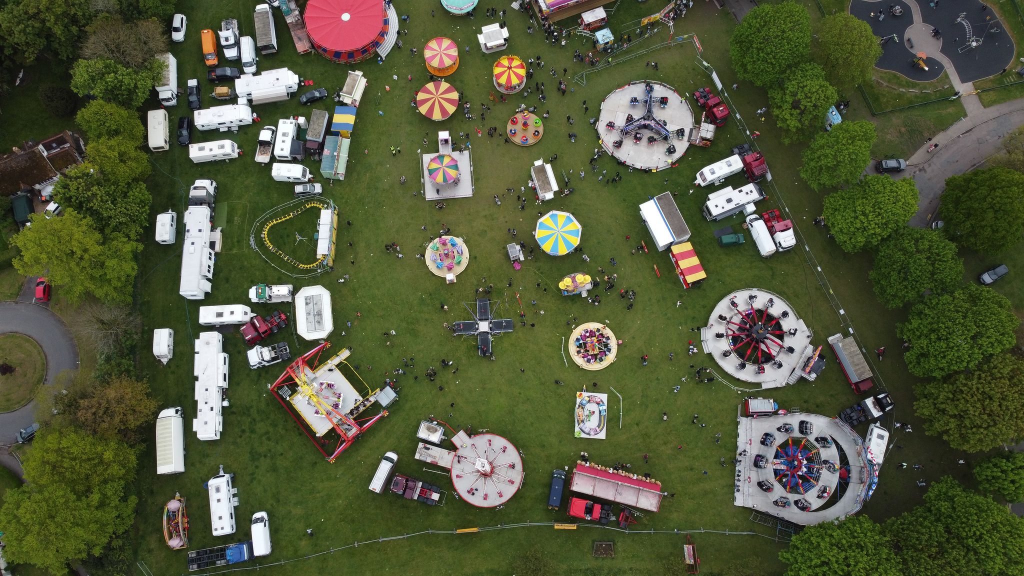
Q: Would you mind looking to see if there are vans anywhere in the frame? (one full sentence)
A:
Yes, a van can be made out from above.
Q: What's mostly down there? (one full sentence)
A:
The largest share of the image is taken up by grass.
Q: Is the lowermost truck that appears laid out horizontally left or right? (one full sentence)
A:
You can find the lowermost truck that appears laid out horizontally on the left side of the picture.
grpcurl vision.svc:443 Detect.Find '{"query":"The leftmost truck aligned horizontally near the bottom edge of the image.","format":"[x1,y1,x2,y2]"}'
[189,538,259,573]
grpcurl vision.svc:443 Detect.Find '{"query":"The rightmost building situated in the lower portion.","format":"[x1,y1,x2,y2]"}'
[790,340,825,381]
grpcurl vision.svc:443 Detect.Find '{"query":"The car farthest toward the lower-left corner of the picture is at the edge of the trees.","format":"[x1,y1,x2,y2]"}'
[11,421,46,447]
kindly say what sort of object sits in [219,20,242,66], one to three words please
truck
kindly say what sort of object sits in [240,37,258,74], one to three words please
vehicle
